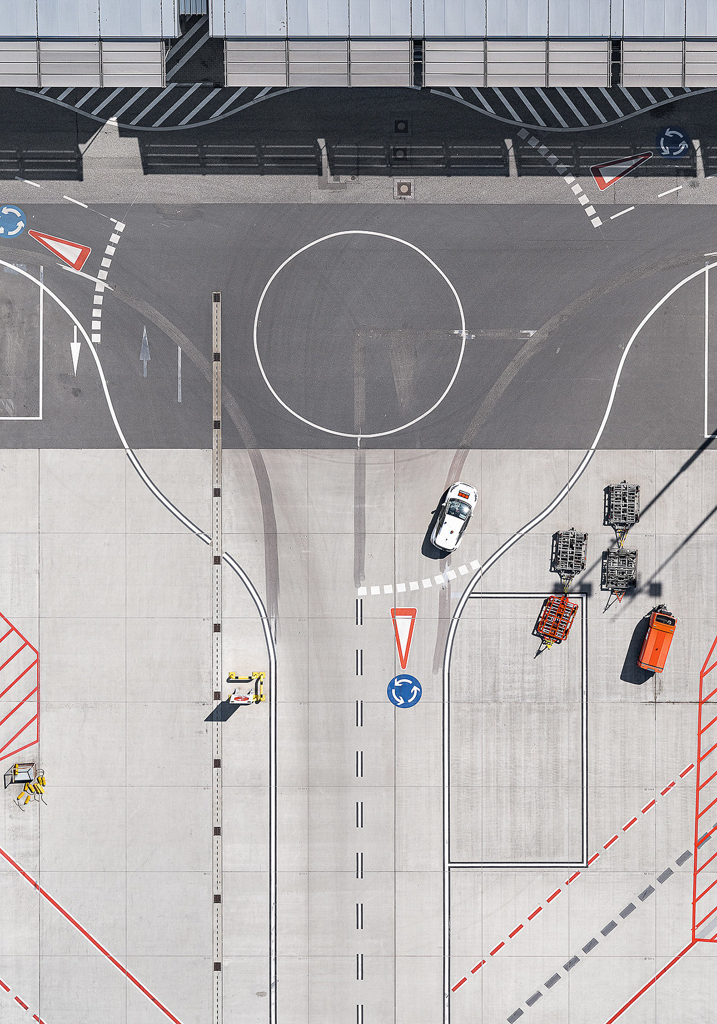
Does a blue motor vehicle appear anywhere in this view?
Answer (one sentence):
No, I can see no blue motor vehicle in this picture.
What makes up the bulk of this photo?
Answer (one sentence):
What you mostly see from above here is paved ground.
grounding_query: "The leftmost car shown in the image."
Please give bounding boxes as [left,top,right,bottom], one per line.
[431,479,479,554]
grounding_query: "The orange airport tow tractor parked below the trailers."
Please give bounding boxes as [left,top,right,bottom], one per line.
[639,605,679,672]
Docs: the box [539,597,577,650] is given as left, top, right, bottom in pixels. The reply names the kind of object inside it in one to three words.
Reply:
trailer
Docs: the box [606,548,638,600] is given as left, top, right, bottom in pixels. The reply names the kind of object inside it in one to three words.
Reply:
trailer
